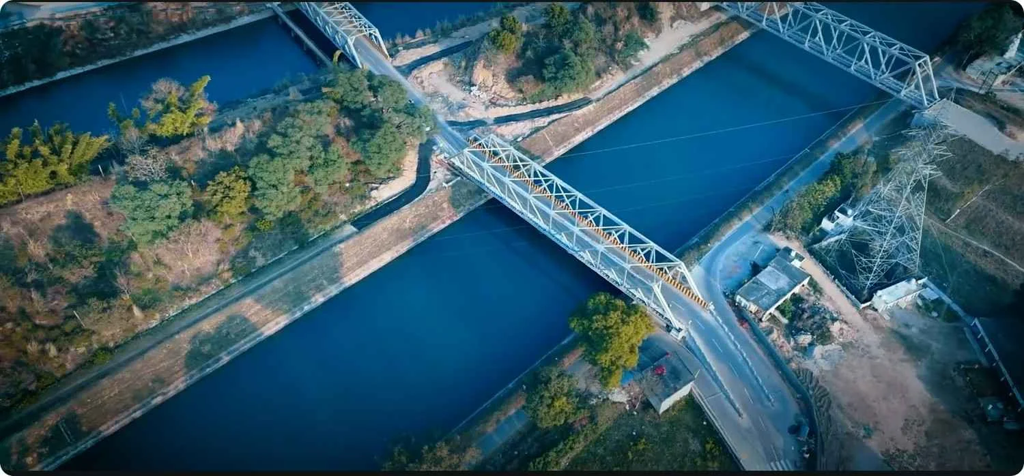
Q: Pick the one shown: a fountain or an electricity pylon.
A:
electricity pylon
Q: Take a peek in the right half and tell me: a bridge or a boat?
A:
bridge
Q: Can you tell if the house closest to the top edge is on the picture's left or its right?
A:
right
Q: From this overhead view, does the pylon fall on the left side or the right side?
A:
right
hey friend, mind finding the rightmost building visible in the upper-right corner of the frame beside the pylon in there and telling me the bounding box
[964,57,1021,90]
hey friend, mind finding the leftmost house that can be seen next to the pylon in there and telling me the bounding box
[735,258,810,323]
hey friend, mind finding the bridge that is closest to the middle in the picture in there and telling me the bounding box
[442,134,714,332]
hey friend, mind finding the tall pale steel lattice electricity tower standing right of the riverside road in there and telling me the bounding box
[813,91,965,296]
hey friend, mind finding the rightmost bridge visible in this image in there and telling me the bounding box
[723,0,941,107]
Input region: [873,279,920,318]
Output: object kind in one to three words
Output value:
house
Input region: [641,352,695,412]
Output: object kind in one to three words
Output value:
house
